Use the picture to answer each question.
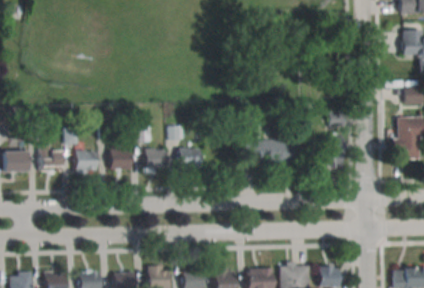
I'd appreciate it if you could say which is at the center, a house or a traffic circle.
house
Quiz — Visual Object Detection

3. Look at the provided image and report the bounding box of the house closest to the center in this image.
[179,148,204,164]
